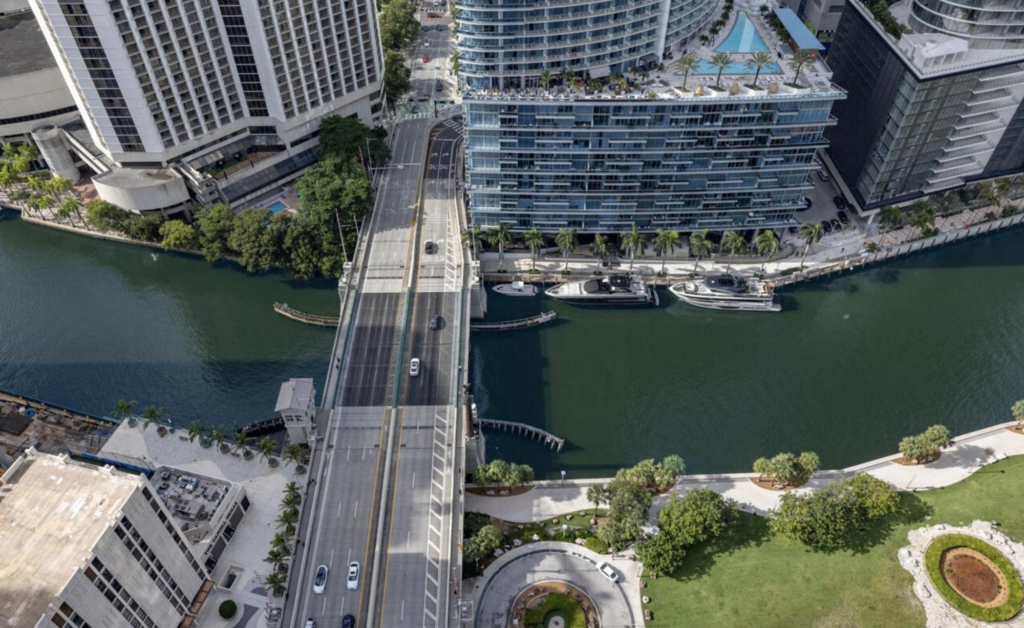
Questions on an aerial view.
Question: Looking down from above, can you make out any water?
Yes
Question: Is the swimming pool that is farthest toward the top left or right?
right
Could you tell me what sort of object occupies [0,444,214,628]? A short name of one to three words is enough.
building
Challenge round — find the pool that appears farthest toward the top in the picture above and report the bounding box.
[714,11,771,53]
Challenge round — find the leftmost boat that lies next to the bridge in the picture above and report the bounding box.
[495,283,540,298]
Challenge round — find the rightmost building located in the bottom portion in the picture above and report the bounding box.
[270,376,313,454]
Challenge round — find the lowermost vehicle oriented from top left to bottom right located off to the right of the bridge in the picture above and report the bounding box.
[597,559,619,583]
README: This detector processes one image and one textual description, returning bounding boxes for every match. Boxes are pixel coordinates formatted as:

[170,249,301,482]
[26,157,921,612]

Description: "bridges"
[268,119,489,628]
